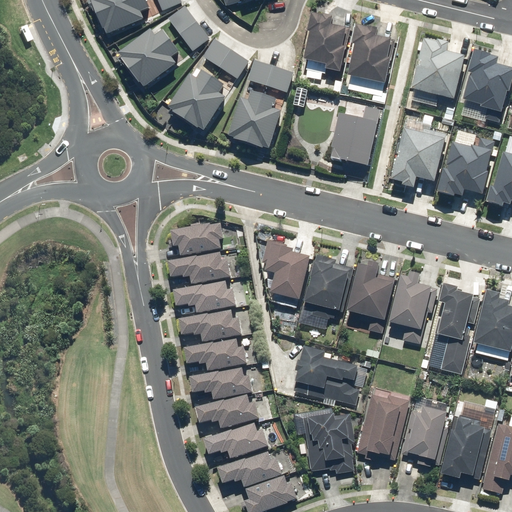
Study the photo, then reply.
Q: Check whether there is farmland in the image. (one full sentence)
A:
No, the picture contains no farmland.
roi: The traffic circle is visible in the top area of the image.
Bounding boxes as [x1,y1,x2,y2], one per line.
[98,148,131,182]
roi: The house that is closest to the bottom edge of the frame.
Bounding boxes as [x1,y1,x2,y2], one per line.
[248,474,306,512]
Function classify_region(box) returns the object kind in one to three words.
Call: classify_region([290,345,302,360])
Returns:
vehicle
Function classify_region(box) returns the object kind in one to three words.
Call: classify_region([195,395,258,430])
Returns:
house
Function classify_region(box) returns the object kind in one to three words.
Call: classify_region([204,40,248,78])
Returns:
building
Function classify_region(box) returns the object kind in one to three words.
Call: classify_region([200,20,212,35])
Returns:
vehicle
